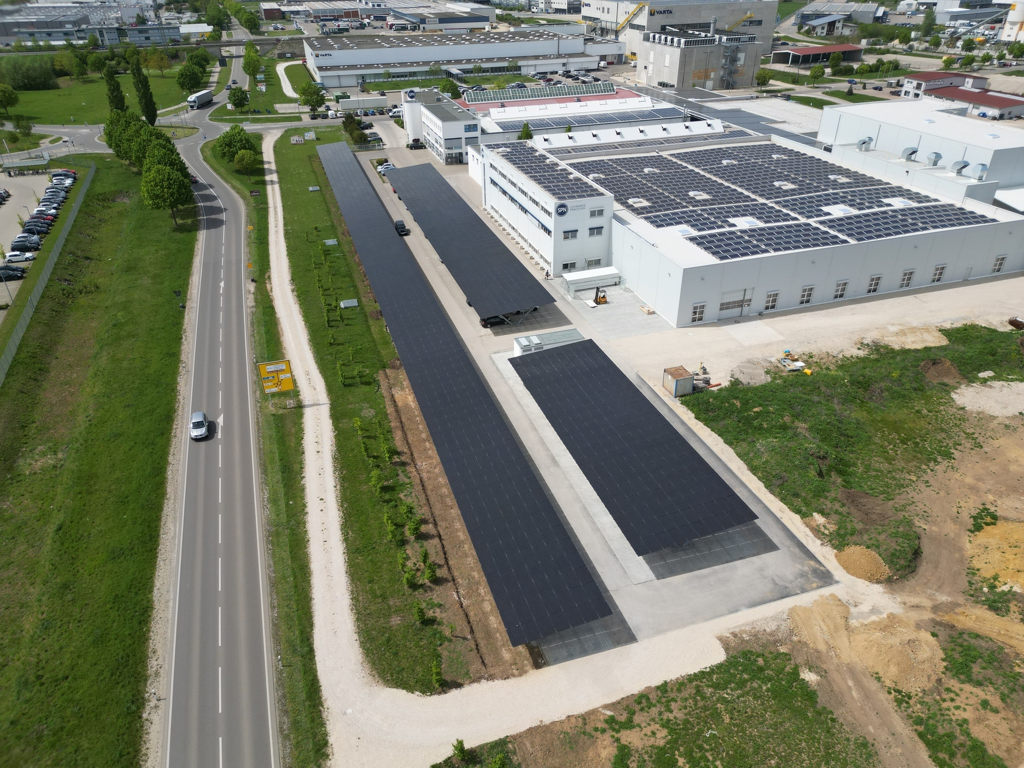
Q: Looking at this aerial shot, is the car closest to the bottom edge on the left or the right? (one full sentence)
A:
The car closest to the bottom edge appears in the left half of the scene.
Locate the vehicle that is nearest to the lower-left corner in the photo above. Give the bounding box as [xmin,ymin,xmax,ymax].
[188,410,211,439]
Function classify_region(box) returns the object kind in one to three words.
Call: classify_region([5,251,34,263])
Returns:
vehicle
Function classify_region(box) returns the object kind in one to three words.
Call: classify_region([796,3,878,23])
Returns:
building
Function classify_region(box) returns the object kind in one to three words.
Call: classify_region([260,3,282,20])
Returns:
building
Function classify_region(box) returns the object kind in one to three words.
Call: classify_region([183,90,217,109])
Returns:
vehicle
